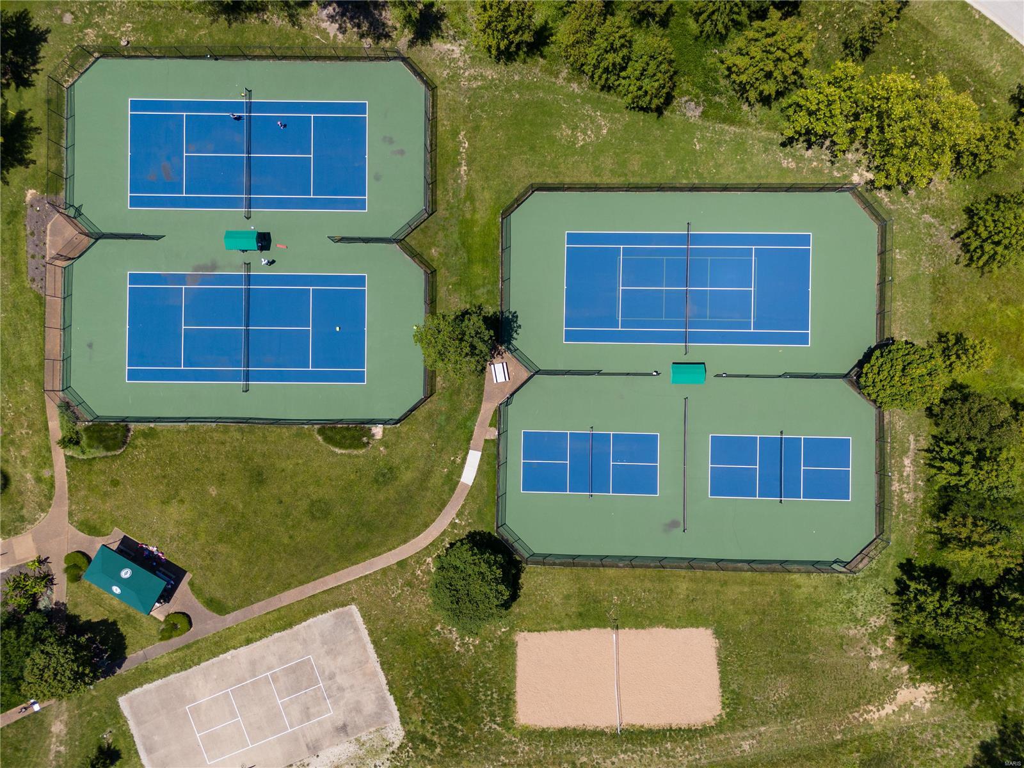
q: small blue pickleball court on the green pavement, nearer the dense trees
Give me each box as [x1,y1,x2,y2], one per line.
[709,435,851,501]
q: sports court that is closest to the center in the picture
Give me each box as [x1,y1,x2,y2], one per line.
[521,430,659,496]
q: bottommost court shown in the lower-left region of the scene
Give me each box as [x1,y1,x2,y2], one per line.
[121,608,395,768]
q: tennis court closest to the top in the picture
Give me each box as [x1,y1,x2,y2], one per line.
[128,99,368,212]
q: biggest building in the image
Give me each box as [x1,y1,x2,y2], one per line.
[83,542,174,615]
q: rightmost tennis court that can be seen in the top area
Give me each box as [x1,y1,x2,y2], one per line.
[564,231,812,346]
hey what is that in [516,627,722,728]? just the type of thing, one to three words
sports court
